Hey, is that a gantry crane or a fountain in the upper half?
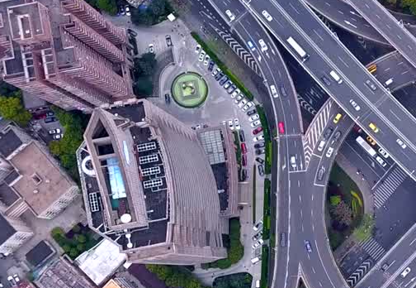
fountain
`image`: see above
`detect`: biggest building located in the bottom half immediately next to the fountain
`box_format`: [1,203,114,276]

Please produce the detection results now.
[76,99,217,257]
